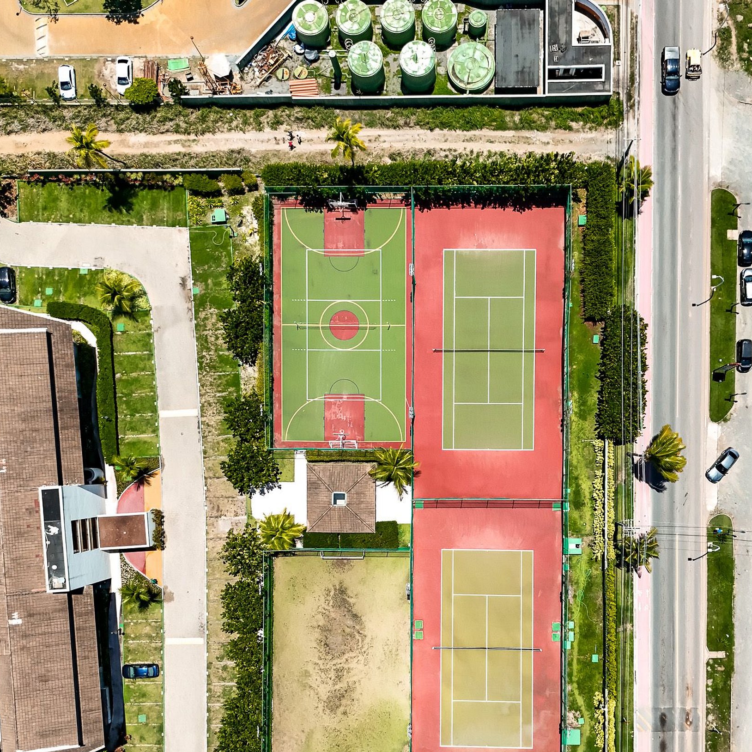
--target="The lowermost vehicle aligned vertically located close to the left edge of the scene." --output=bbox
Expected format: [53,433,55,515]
[0,266,16,304]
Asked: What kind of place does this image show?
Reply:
sports ground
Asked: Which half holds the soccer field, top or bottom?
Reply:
bottom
